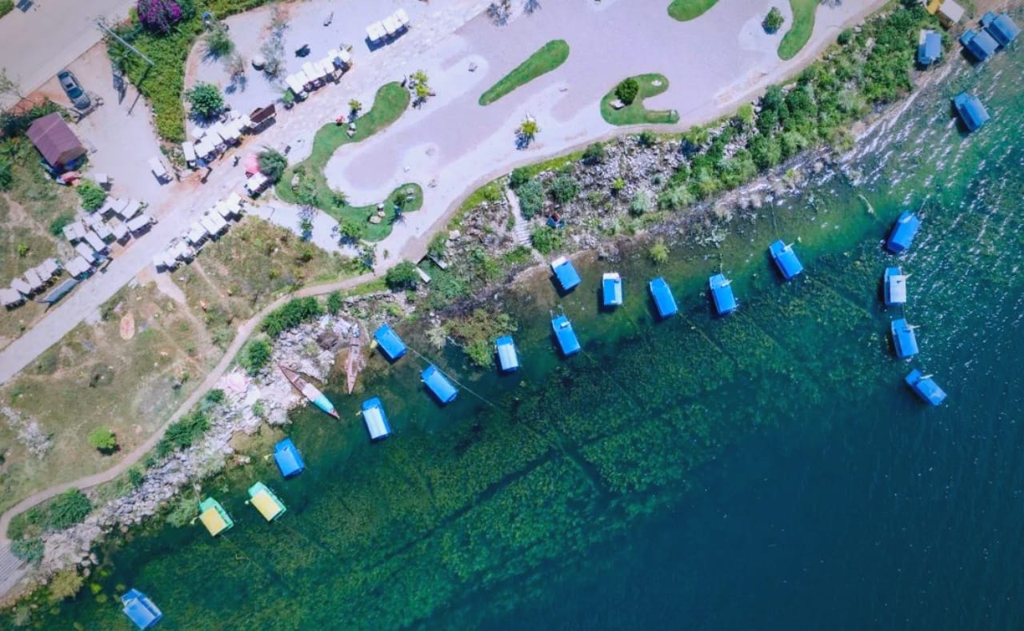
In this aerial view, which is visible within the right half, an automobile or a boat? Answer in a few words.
boat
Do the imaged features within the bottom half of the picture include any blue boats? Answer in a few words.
Yes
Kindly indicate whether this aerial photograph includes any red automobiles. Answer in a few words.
No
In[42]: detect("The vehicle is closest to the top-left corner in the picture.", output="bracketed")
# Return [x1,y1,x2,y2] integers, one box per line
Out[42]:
[56,68,92,110]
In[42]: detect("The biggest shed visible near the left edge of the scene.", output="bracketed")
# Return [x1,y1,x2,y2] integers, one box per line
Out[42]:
[27,111,86,167]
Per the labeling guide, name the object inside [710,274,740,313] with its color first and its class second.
blue boat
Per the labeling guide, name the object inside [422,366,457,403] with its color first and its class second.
blue boat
